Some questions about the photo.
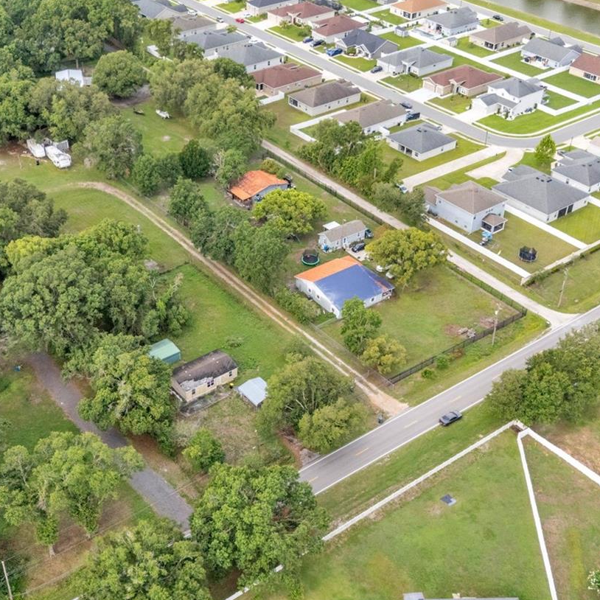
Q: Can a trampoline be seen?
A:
Yes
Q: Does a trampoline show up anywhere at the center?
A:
Yes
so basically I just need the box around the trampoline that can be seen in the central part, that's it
[301,248,320,265]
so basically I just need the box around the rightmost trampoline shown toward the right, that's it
[518,244,538,261]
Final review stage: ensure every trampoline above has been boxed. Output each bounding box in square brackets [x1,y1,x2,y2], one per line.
[301,248,320,265]
[518,244,538,261]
